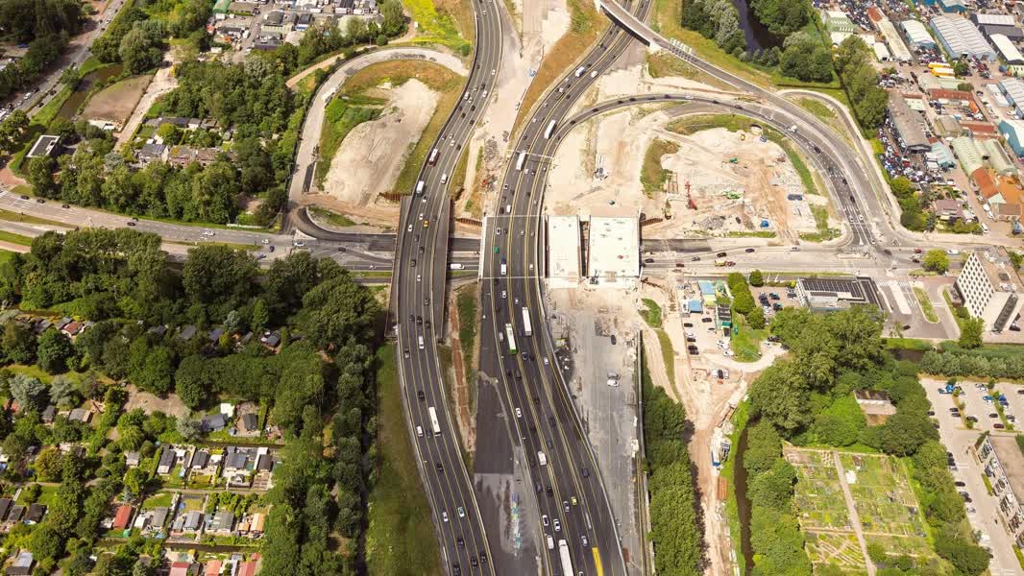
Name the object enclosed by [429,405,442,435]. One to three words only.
vehicle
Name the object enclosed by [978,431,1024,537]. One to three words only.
building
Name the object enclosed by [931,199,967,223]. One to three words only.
house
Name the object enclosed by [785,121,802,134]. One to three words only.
vehicle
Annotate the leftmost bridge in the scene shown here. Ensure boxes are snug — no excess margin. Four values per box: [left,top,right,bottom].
[384,196,451,340]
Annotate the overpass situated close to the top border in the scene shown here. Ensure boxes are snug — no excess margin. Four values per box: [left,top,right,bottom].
[593,0,673,53]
